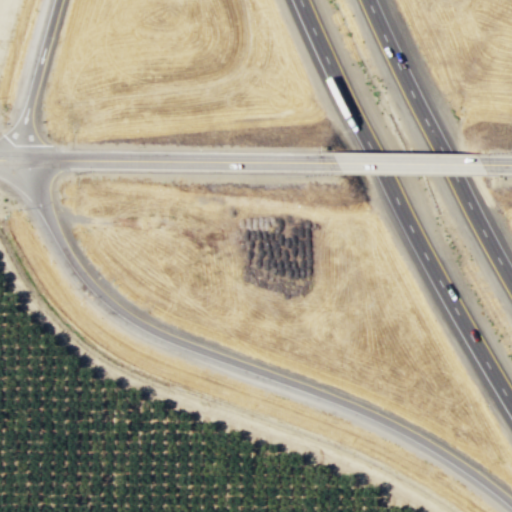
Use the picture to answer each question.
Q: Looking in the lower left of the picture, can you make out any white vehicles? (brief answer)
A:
No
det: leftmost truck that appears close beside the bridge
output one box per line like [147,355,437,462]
[326,74,356,129]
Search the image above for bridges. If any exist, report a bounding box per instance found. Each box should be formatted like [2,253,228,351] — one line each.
[325,152,499,178]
